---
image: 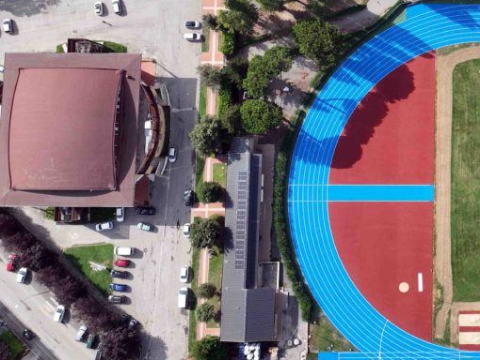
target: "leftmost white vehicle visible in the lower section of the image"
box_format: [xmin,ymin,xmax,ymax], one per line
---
[16,265,30,285]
